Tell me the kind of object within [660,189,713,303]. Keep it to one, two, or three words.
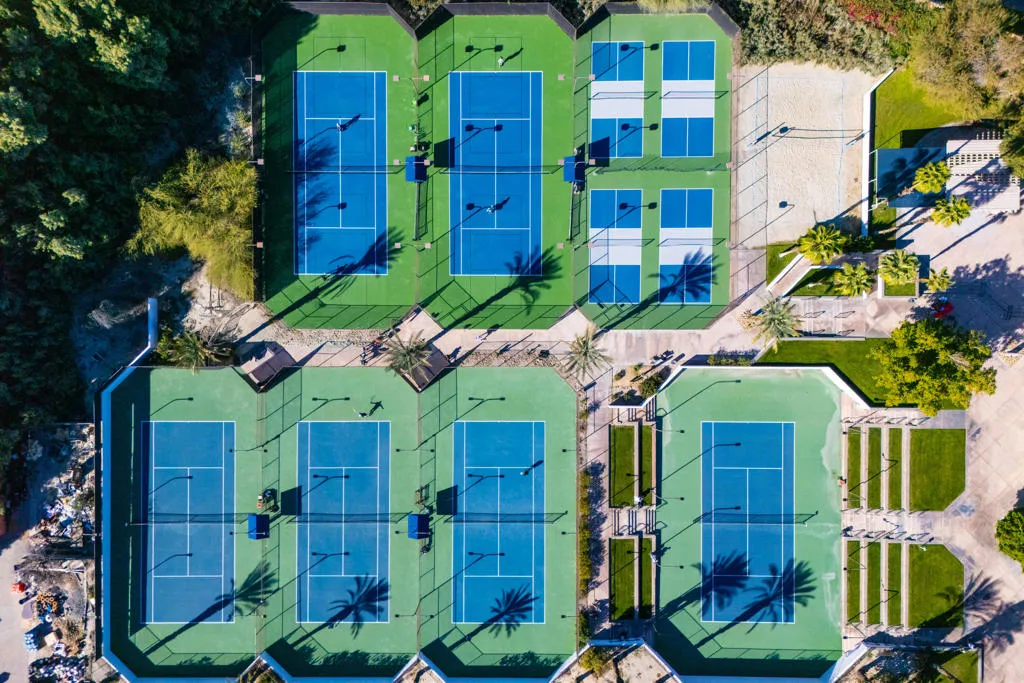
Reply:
sports court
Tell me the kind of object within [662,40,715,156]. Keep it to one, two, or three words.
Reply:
sports court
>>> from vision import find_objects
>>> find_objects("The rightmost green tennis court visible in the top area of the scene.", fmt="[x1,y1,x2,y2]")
[417,15,575,328]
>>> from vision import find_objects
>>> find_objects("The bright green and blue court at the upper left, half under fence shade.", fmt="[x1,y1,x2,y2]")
[264,15,418,328]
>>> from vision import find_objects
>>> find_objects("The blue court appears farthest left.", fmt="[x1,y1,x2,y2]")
[110,367,266,677]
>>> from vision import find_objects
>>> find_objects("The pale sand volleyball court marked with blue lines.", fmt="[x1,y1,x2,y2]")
[740,57,892,249]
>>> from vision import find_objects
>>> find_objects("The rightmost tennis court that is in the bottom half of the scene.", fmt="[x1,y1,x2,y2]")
[657,368,842,677]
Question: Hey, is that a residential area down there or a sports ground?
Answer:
sports ground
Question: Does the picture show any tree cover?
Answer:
Yes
